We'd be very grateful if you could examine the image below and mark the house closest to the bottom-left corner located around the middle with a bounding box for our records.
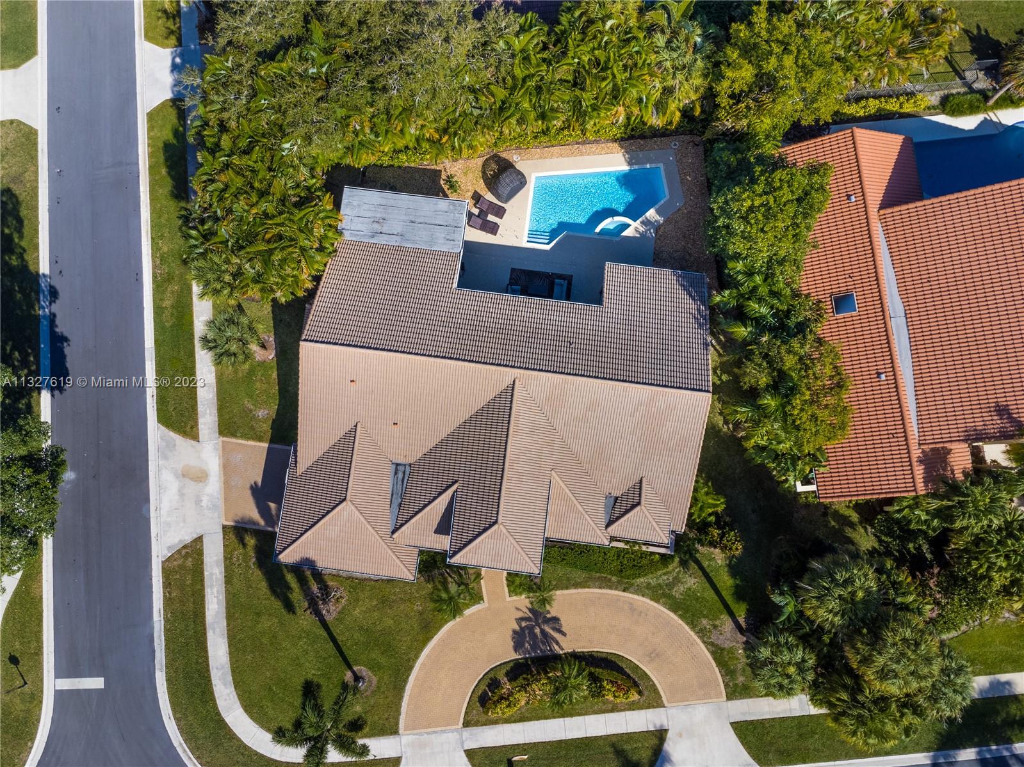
[272,185,712,583]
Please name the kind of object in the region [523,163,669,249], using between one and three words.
swimming pool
